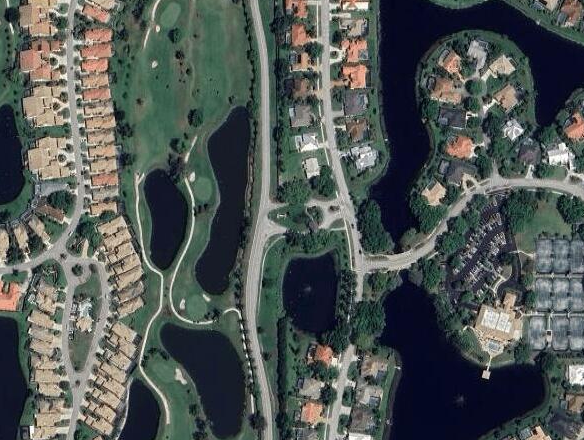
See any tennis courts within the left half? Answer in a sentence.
No, no tennis court appears within the left half.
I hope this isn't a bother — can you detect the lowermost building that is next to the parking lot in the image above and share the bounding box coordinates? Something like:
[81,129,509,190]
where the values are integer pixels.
[473,299,521,338]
